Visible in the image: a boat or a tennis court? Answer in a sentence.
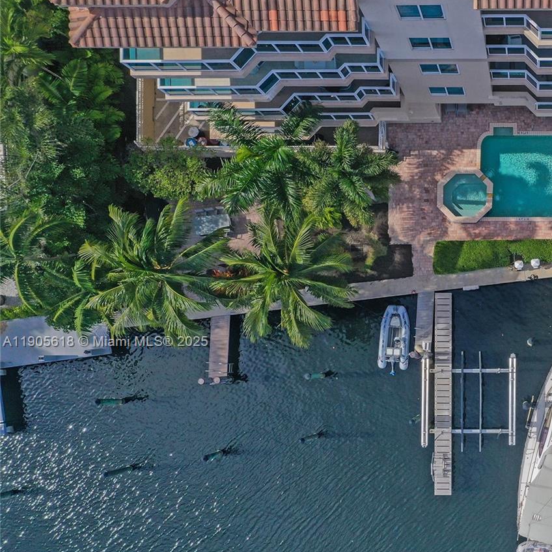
This aerial view contains a boat.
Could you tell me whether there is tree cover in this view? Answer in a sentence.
Yes, tree cover can be seen from above here.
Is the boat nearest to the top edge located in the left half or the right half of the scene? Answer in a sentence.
The boat nearest to the top edge sits on the right side.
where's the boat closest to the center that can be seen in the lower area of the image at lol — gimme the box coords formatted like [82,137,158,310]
[378,304,410,374]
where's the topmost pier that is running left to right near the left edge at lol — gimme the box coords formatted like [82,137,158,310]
[0,328,121,368]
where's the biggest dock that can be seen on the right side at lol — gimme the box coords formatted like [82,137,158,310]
[434,293,452,495]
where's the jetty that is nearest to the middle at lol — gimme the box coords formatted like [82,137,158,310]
[204,316,244,378]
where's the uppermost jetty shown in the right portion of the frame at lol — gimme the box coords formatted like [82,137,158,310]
[413,291,435,349]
